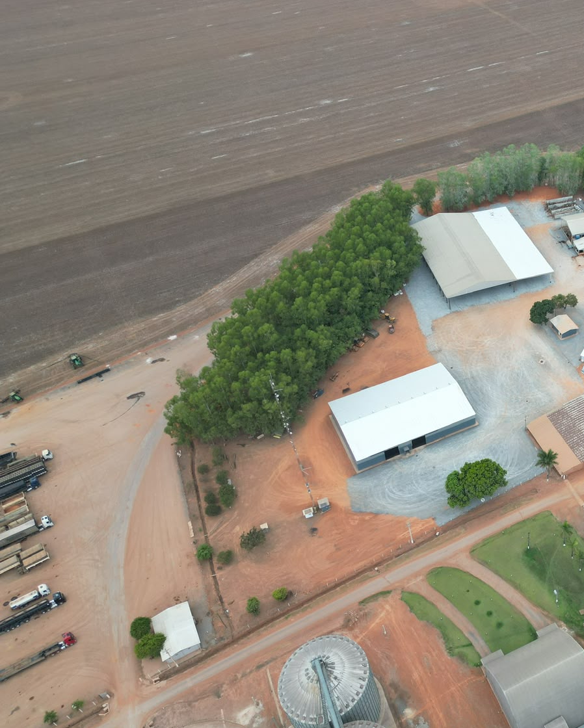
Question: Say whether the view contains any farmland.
Yes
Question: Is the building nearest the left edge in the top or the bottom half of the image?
bottom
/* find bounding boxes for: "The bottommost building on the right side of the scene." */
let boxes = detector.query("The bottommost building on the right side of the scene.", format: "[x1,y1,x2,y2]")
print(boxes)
[474,616,584,728]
